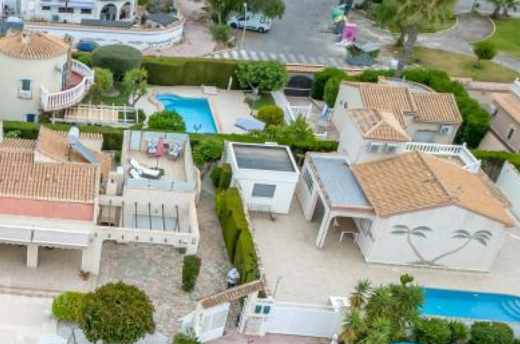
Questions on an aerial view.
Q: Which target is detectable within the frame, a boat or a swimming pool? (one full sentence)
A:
The image shows a swimming pool.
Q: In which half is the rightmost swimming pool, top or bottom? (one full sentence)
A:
The bottom half of the photo is where the rightmost swimming pool is.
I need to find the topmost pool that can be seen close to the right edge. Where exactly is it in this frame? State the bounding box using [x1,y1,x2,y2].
[411,282,520,327]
